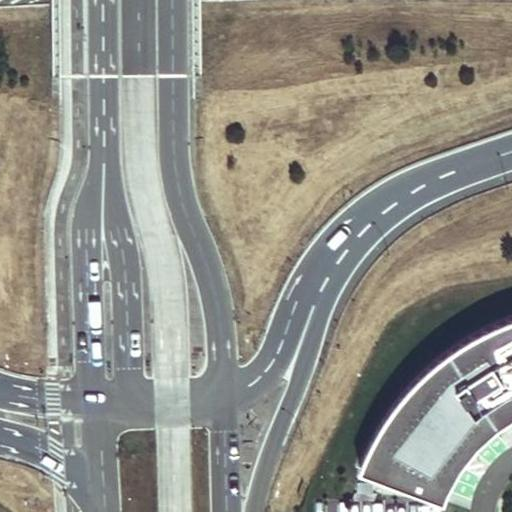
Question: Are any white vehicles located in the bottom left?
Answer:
Yes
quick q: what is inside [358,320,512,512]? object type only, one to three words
building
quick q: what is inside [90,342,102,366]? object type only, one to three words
vehicle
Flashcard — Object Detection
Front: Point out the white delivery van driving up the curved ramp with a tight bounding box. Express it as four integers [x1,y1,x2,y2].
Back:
[326,226,352,253]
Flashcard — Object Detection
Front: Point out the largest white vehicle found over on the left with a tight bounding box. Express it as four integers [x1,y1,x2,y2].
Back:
[87,300,102,336]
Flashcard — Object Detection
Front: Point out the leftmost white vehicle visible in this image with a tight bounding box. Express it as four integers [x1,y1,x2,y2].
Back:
[40,458,66,477]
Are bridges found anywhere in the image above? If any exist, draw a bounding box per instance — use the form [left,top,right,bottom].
[52,0,204,78]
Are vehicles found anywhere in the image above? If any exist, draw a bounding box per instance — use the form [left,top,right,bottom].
[88,260,99,282]
[228,438,240,462]
[314,504,325,512]
[84,392,106,404]
[87,300,102,336]
[90,342,102,366]
[130,333,141,358]
[338,503,348,512]
[326,226,352,253]
[350,505,360,512]
[76,332,88,353]
[40,458,66,477]
[362,504,372,512]
[229,474,240,498]
[374,504,384,512]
